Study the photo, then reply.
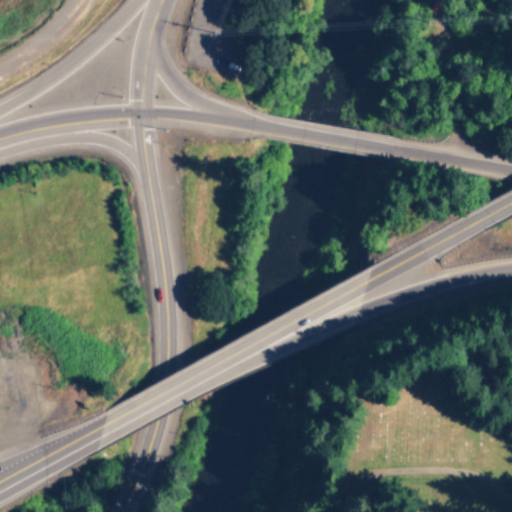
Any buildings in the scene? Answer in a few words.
No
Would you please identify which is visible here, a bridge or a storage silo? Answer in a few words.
bridge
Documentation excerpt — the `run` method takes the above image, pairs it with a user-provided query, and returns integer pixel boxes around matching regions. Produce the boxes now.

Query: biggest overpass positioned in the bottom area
[98,266,372,453]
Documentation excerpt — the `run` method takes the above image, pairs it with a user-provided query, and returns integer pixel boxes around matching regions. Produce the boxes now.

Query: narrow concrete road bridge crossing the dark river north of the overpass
[256,115,416,162]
